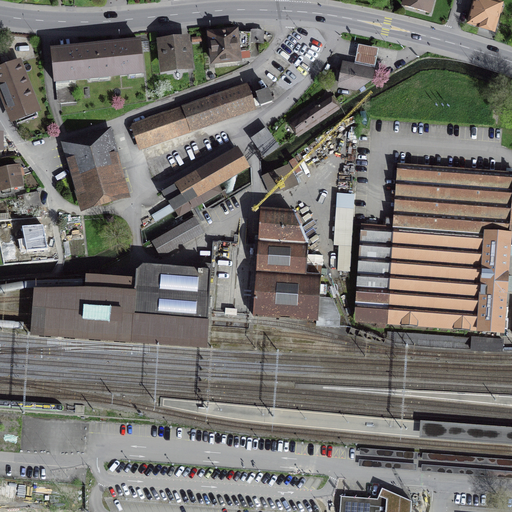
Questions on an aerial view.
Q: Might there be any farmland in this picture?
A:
No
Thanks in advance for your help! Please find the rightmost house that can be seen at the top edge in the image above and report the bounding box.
[467,0,504,38]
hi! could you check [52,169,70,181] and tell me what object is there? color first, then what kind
white vehicle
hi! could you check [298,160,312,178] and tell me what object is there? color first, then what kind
white vehicle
